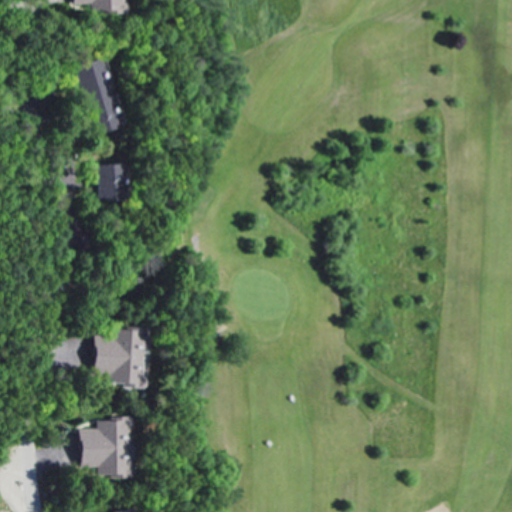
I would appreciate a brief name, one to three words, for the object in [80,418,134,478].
house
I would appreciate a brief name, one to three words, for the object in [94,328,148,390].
house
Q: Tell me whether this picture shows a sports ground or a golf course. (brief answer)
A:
golf course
